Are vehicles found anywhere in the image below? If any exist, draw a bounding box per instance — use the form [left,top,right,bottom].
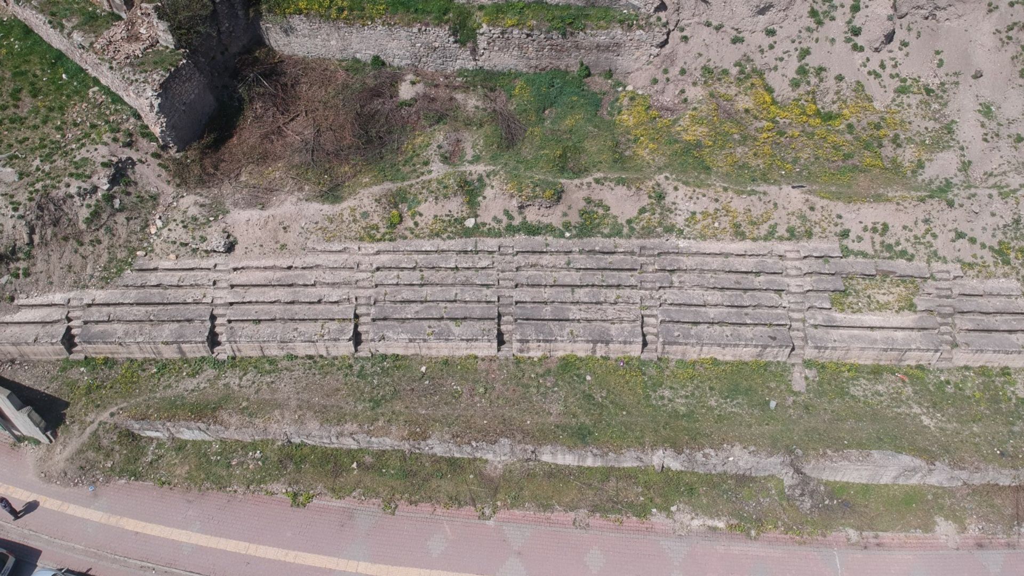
[0,545,17,576]
[29,563,77,576]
